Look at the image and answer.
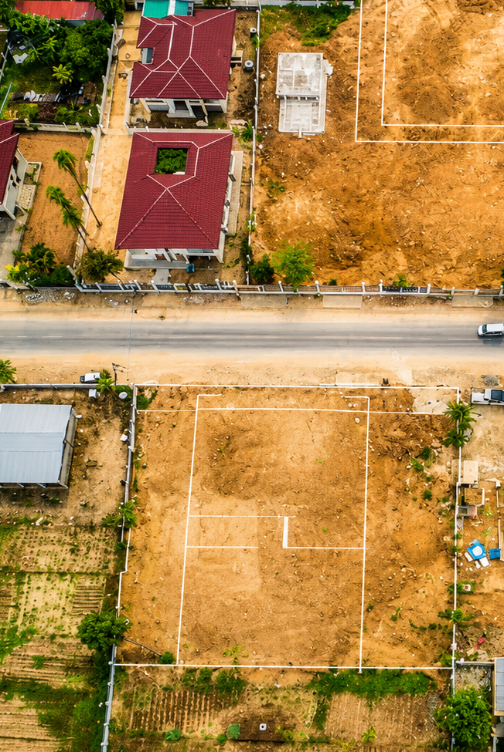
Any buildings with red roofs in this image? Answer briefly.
Yes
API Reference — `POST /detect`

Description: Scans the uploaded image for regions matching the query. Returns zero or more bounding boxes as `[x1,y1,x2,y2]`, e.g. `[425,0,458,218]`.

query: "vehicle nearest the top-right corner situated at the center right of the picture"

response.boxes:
[477,324,504,338]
